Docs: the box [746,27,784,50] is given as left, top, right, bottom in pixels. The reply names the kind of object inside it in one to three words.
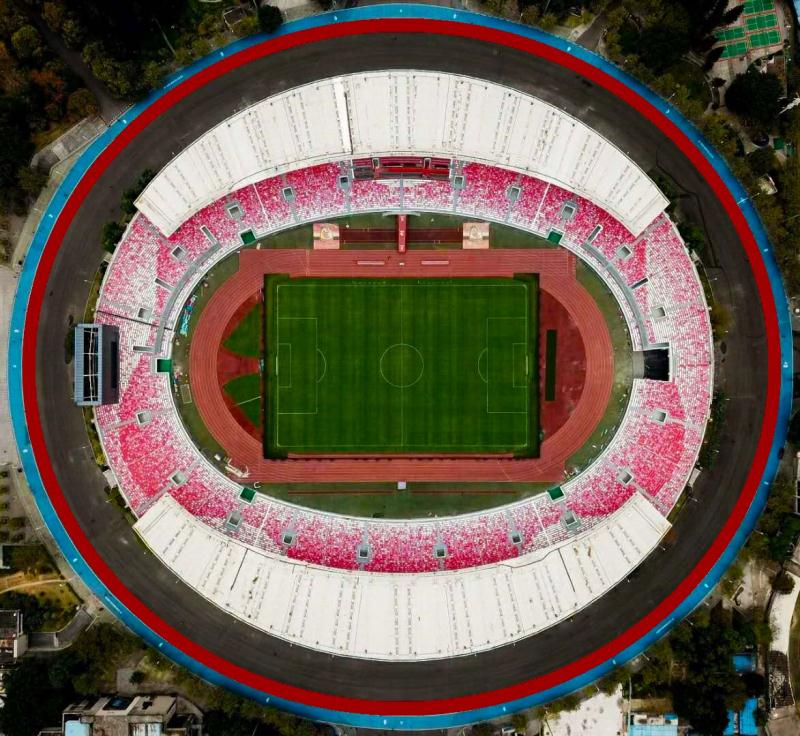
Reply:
sports court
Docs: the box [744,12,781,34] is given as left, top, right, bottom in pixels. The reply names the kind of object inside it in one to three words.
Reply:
sports court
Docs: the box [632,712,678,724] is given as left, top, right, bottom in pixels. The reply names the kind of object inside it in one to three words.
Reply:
building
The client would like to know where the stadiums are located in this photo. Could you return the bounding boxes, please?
[95,70,715,661]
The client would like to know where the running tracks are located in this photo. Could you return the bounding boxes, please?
[191,248,614,482]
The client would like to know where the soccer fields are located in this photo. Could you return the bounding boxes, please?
[263,273,540,458]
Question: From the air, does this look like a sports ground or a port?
sports ground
